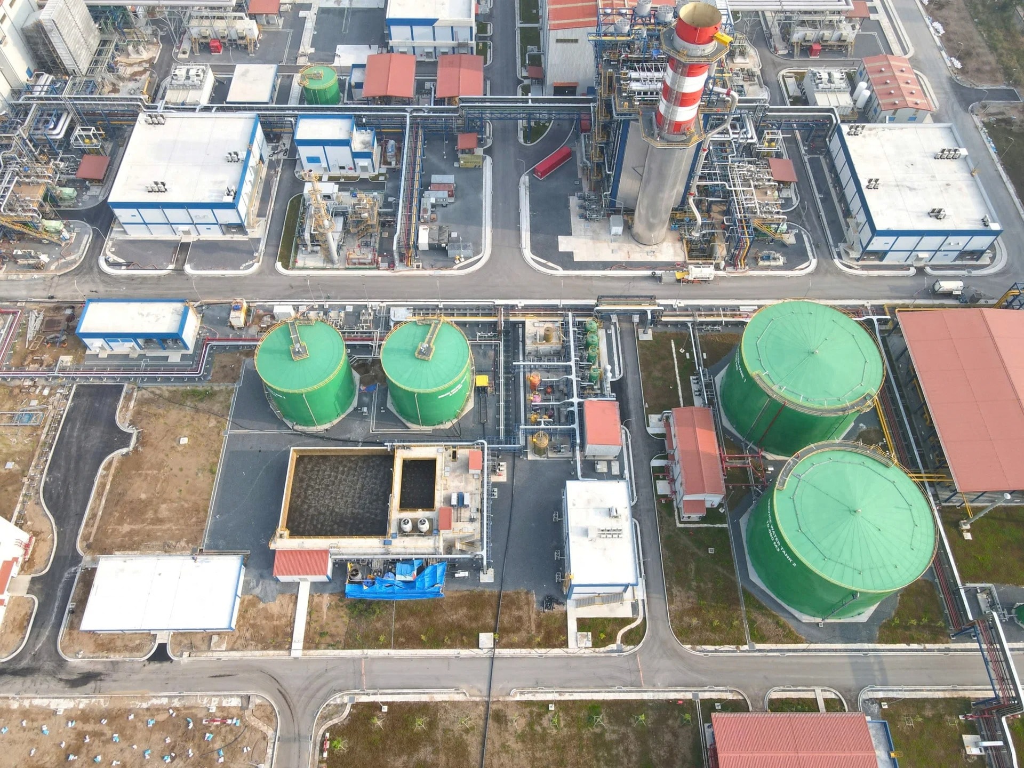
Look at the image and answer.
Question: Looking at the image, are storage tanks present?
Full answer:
Yes, the picture does show a storage tank.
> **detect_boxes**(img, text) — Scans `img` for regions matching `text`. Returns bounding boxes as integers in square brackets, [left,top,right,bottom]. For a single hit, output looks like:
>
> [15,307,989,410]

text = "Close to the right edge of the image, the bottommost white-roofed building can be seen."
[824,124,1003,261]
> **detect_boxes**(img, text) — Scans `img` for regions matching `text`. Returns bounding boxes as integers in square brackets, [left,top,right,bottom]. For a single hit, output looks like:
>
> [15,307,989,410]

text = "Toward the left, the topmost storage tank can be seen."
[295,55,343,102]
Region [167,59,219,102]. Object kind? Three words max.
house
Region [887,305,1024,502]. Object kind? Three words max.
warehouse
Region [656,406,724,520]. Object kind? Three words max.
building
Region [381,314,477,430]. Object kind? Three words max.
storage tank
